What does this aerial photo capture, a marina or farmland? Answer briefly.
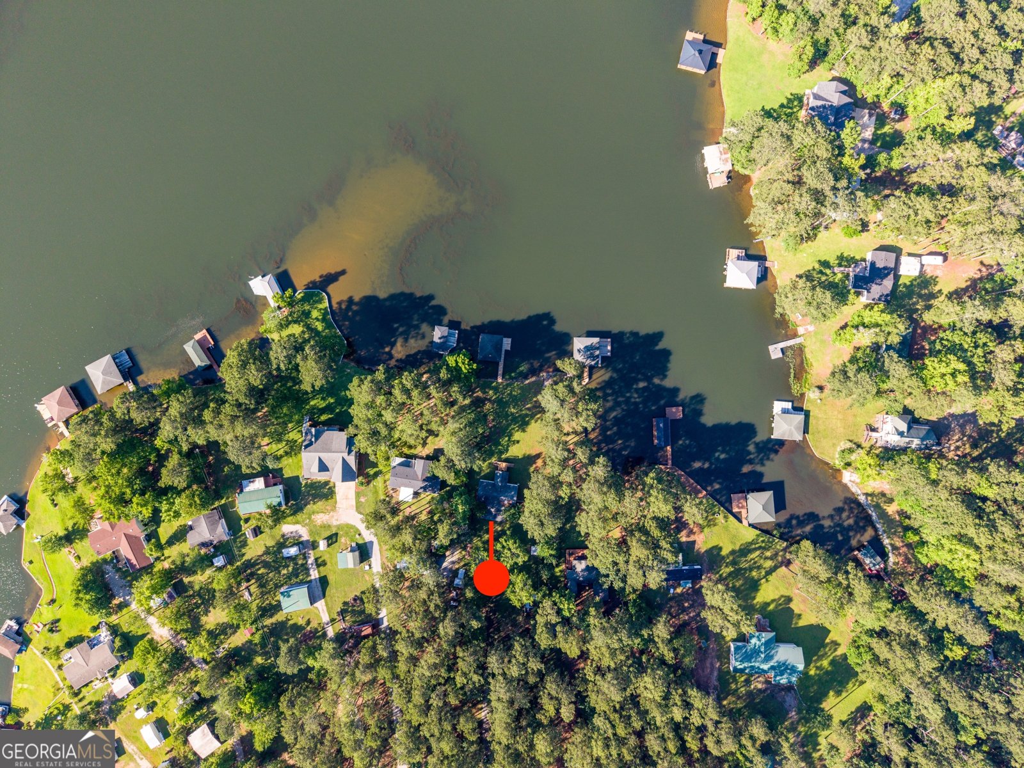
marina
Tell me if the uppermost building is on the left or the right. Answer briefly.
right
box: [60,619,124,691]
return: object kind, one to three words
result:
house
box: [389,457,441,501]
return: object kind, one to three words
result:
house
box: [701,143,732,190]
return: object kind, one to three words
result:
building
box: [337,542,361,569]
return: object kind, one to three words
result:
barn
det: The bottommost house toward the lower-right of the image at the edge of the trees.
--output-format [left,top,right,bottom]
[728,612,806,685]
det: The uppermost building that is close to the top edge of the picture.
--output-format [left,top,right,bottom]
[676,29,724,78]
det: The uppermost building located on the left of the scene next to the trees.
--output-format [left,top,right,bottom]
[248,274,284,309]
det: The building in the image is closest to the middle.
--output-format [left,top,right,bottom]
[478,334,511,361]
